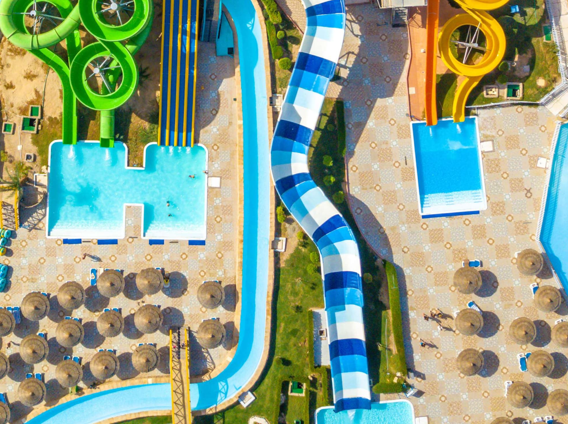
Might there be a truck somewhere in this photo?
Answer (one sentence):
No, no truck is visible in the scene.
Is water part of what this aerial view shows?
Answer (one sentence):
Yes, there's water in this view.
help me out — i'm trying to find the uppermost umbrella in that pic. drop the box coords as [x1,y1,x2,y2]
[515,246,544,275]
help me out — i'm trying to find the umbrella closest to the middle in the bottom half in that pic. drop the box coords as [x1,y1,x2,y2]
[195,280,225,310]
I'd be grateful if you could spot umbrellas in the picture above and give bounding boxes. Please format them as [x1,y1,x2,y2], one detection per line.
[134,304,163,333]
[54,358,84,388]
[130,343,161,373]
[532,283,561,313]
[55,279,87,310]
[0,306,16,336]
[525,348,555,378]
[454,347,484,376]
[96,268,126,297]
[21,291,51,321]
[507,316,538,346]
[16,376,47,406]
[195,280,225,310]
[134,266,165,295]
[453,306,483,337]
[90,349,119,378]
[545,386,568,415]
[515,246,544,275]
[195,318,226,348]
[20,334,49,363]
[505,380,534,409]
[54,317,85,347]
[550,319,568,349]
[452,265,482,295]
[96,308,125,337]
[0,350,11,378]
